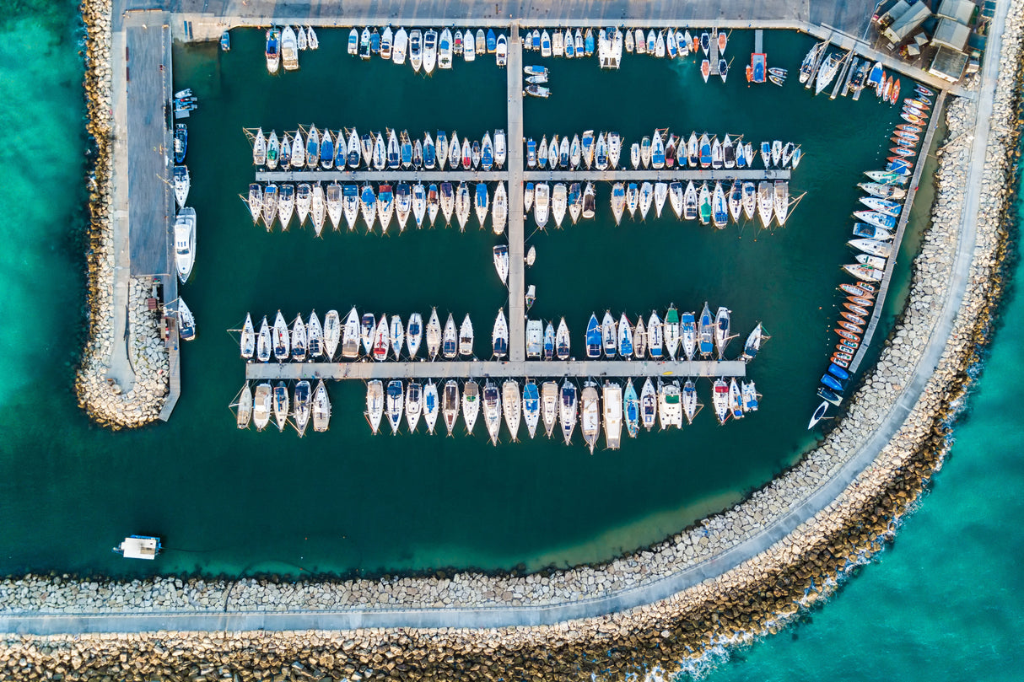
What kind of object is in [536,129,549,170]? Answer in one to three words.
boat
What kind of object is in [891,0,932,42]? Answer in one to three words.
shed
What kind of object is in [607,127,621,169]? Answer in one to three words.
boat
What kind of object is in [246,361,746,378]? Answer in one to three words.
pier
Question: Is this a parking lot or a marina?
marina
